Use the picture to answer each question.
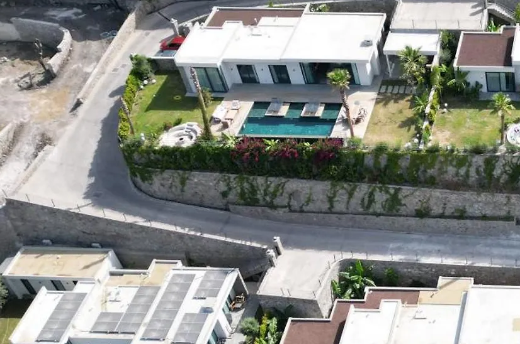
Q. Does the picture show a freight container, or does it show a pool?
pool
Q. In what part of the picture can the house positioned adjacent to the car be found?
top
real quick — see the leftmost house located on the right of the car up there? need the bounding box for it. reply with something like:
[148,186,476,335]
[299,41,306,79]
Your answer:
[172,6,387,91]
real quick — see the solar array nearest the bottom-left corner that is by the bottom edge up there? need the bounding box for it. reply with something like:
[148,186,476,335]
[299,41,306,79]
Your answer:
[38,292,86,340]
